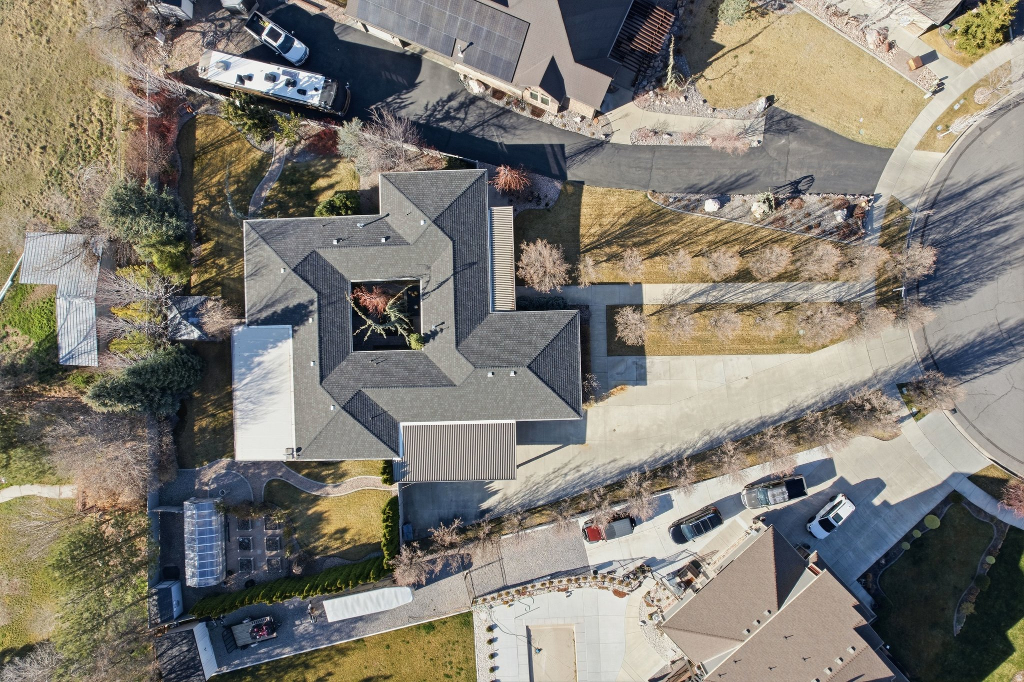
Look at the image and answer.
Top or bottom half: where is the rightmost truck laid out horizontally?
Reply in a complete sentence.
The bottom half of the photo is where the rightmost truck laid out horizontally is.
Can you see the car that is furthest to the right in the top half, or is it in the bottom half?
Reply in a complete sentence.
The car that is furthest to the right sits in the bottom half of the picture.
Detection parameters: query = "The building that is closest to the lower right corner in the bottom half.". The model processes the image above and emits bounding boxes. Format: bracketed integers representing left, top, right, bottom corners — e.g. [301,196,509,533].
[656,523,934,682]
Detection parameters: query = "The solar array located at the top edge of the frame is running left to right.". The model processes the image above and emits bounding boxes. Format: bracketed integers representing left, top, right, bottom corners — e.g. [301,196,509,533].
[354,0,529,84]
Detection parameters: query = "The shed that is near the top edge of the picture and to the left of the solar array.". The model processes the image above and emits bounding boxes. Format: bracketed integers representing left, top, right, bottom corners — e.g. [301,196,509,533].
[155,0,205,29]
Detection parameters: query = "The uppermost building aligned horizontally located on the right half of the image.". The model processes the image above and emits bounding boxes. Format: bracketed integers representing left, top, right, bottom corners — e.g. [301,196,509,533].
[879,0,965,35]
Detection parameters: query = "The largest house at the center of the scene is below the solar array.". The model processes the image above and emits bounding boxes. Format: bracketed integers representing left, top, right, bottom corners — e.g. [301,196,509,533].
[242,169,583,462]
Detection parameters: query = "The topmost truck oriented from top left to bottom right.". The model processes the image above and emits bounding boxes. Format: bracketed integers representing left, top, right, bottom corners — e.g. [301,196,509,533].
[243,10,311,69]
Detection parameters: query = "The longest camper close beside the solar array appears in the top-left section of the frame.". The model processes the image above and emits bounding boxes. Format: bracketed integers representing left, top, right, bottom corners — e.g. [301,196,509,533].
[198,50,356,120]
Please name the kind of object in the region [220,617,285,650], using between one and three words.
trailer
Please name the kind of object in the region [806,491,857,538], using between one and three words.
car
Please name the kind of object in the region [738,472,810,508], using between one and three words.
truck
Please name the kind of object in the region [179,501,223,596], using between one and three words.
greenhouse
